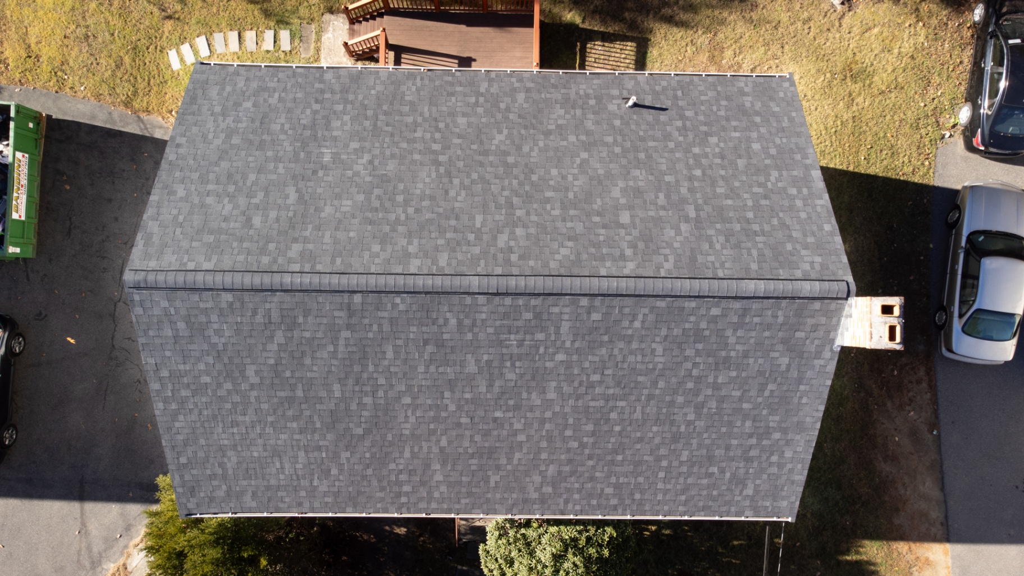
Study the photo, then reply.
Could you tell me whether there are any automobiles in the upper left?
No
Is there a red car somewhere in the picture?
No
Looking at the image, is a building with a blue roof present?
No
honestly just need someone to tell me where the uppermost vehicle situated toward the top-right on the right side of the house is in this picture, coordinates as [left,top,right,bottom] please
[954,0,1024,162]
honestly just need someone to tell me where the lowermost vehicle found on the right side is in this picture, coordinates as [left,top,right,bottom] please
[930,177,1024,366]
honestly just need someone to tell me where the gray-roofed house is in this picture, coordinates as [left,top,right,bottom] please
[123,60,905,522]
